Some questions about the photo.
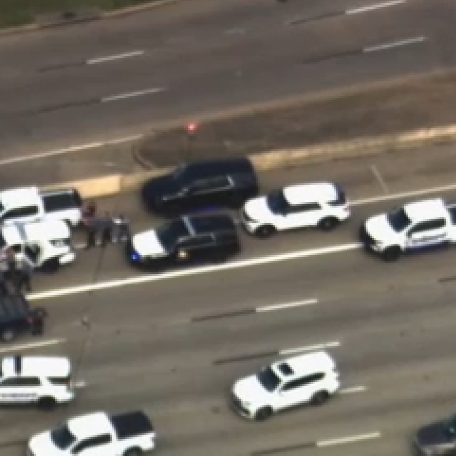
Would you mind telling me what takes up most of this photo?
paved ground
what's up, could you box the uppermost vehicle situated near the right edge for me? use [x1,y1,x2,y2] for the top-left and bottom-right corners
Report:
[359,200,456,263]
